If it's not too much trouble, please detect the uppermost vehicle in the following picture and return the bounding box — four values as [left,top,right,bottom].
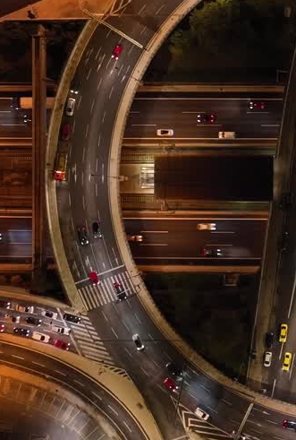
[111,40,125,59]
